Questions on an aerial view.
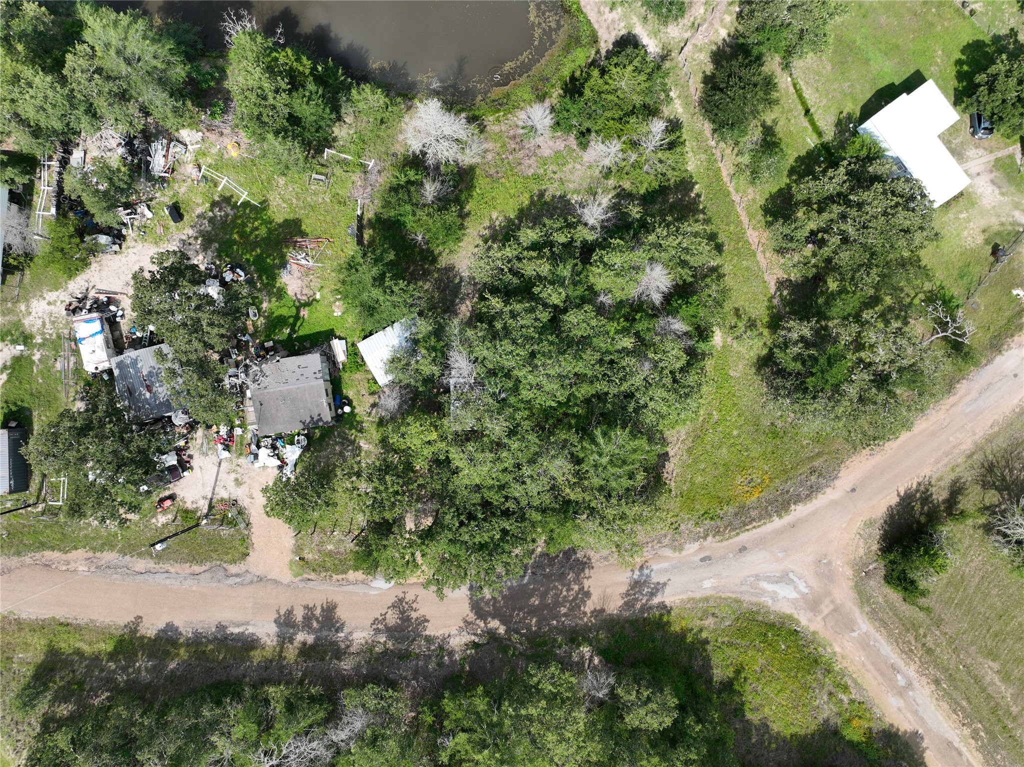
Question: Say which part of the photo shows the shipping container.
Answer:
left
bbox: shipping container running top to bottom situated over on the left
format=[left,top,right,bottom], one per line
[0,427,28,496]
